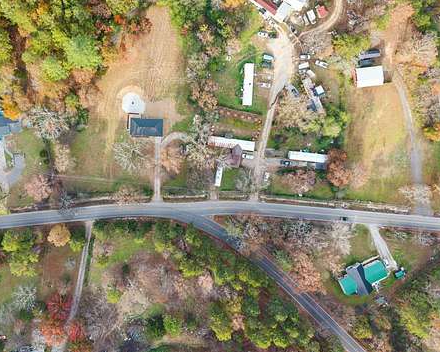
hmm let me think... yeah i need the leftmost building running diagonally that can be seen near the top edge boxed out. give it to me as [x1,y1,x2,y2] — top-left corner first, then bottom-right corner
[245,0,279,25]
